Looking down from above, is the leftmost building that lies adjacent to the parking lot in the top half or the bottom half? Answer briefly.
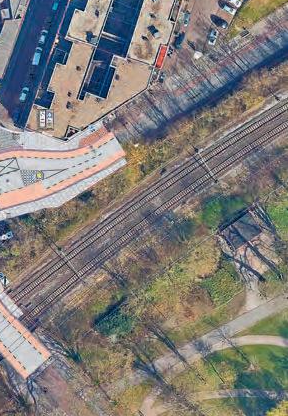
top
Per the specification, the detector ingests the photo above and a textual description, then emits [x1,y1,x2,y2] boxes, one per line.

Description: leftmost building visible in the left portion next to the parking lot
[22,0,175,142]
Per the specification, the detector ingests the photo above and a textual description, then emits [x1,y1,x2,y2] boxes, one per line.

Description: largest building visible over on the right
[218,203,275,251]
